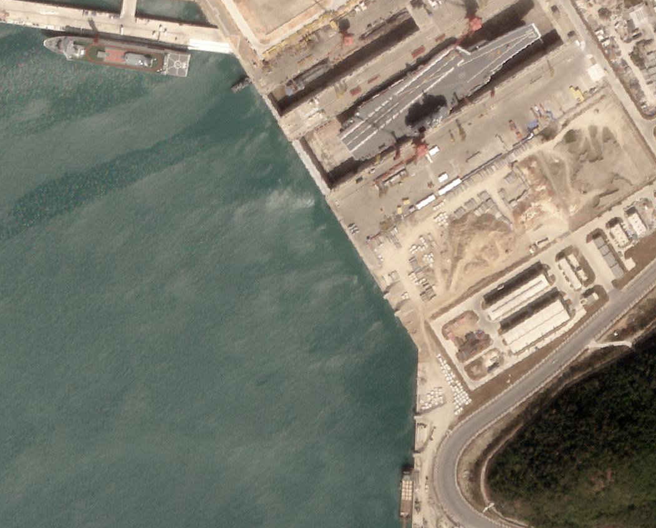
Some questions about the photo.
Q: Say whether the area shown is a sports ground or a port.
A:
port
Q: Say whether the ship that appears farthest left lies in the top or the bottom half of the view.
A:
top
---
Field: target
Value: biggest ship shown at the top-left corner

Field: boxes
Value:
[44,27,190,76]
